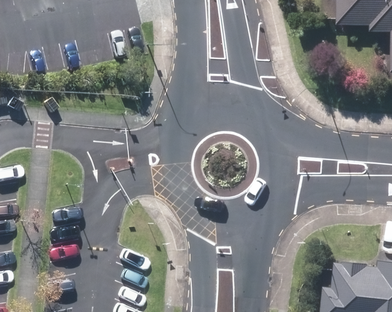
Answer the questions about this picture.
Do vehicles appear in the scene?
Yes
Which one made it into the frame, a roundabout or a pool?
roundabout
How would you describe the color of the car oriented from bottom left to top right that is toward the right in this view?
white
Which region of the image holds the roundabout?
center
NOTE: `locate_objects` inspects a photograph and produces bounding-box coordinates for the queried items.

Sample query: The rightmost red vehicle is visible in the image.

[48,244,80,260]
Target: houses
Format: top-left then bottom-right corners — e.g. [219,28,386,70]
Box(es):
[320,261,392,312]
[336,0,392,72]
